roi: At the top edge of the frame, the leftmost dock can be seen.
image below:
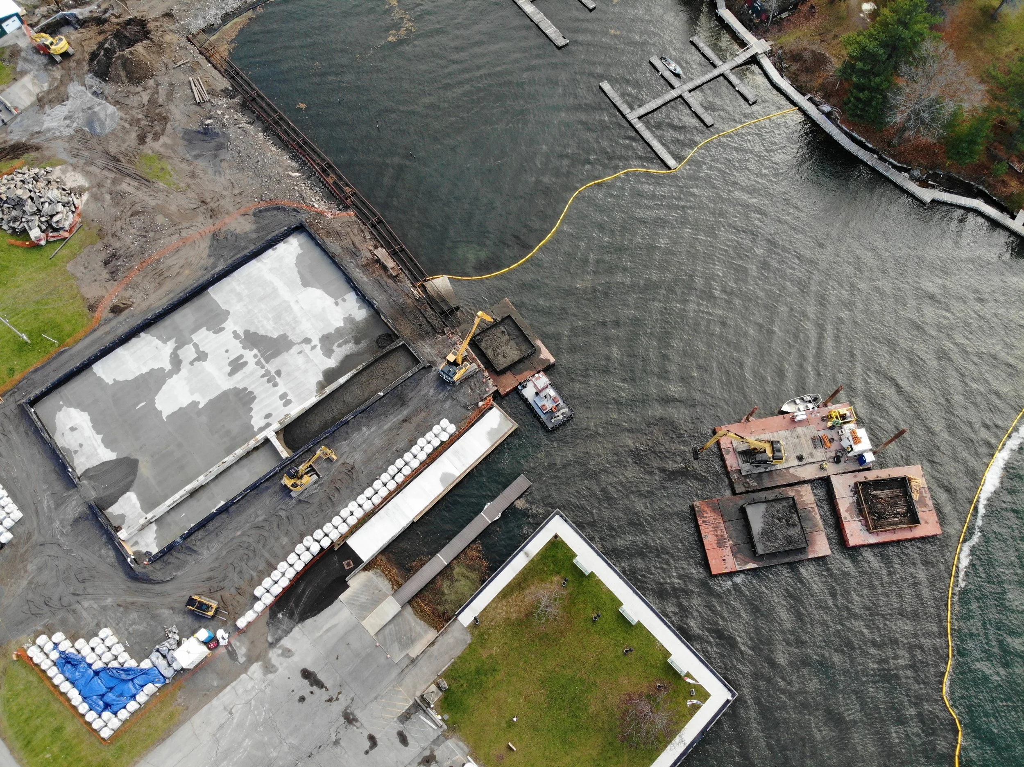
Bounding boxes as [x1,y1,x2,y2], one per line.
[513,0,569,49]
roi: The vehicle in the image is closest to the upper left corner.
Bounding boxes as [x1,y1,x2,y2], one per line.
[33,23,77,64]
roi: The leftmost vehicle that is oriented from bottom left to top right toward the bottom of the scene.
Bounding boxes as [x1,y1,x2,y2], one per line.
[276,443,343,498]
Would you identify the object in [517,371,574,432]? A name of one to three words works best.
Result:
boat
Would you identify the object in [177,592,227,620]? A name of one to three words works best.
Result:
work vehicle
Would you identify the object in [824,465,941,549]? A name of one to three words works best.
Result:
ship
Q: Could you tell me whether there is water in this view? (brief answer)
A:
Yes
